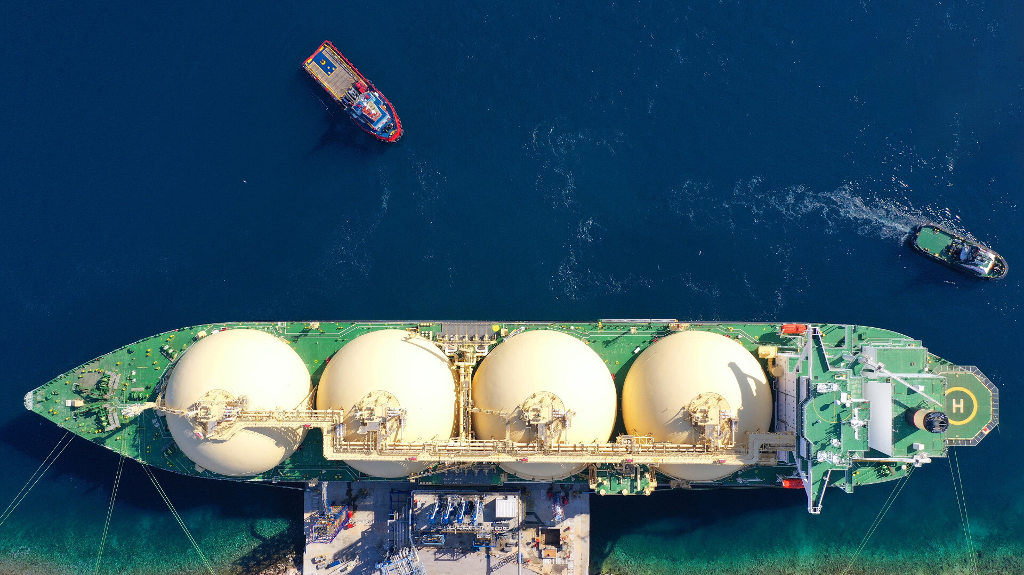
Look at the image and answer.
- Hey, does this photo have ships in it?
Yes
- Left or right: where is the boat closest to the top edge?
left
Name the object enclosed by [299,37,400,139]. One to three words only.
boat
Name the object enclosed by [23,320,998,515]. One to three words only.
ship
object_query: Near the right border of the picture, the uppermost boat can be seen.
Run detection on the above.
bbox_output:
[911,222,1014,278]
